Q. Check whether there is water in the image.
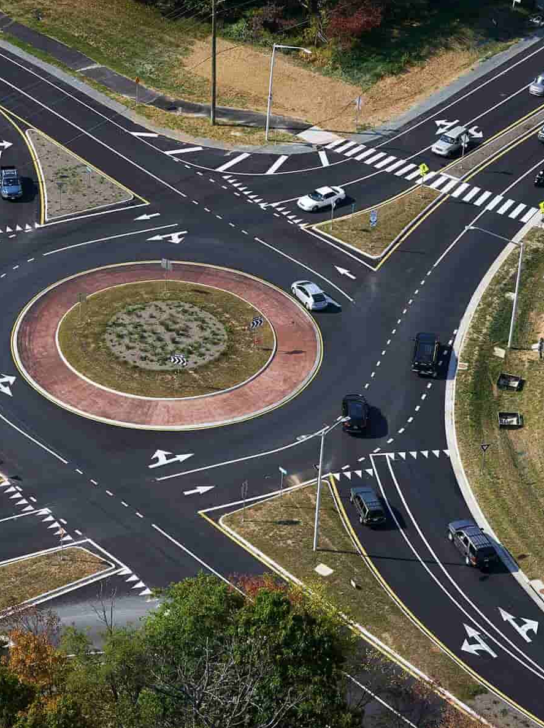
No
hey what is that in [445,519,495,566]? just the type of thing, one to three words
car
